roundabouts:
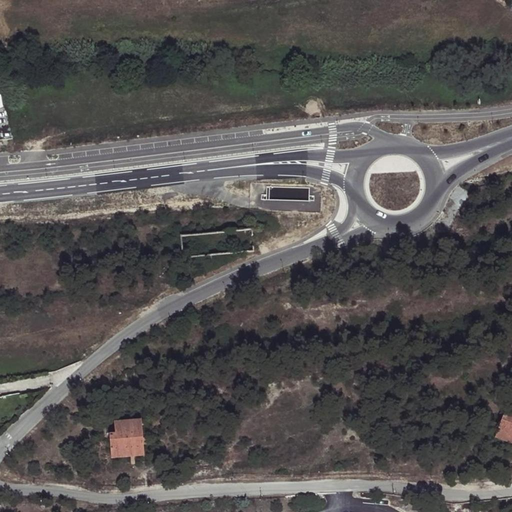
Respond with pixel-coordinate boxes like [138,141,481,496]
[364,154,426,216]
